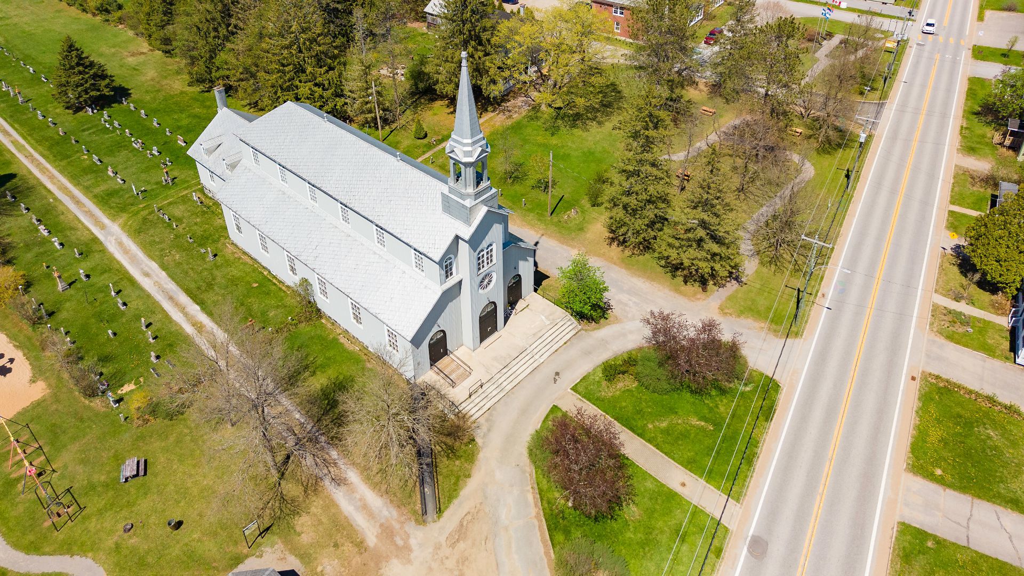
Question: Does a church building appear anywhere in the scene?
Yes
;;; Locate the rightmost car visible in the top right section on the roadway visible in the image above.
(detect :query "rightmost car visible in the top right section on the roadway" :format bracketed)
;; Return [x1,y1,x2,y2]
[921,17,936,34]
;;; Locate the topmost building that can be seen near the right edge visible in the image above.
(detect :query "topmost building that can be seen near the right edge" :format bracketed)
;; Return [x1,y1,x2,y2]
[995,105,1024,161]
